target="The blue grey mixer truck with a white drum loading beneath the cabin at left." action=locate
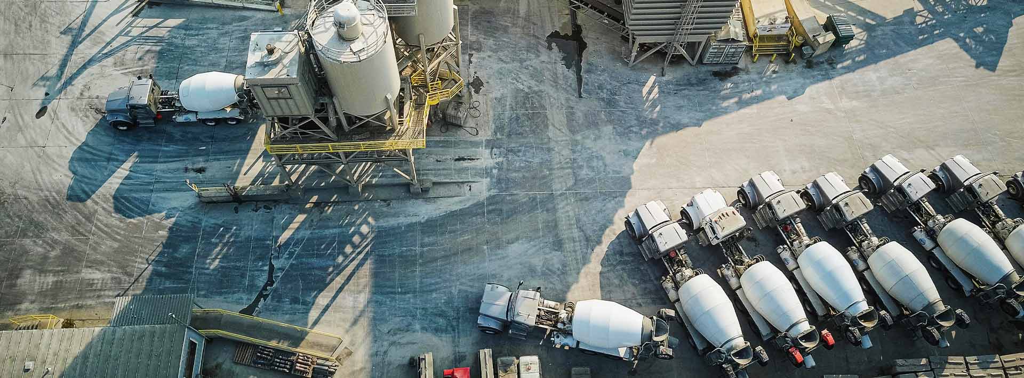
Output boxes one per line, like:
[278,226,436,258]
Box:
[103,71,261,132]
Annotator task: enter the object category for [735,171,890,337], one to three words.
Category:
truck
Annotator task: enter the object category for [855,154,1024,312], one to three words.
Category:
truck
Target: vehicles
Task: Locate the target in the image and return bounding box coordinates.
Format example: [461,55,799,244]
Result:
[444,368,473,378]
[623,200,765,374]
[498,358,517,378]
[926,154,1024,274]
[679,190,831,360]
[103,71,261,132]
[520,356,539,378]
[855,154,1024,312]
[735,171,890,337]
[798,172,964,337]
[473,279,672,357]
